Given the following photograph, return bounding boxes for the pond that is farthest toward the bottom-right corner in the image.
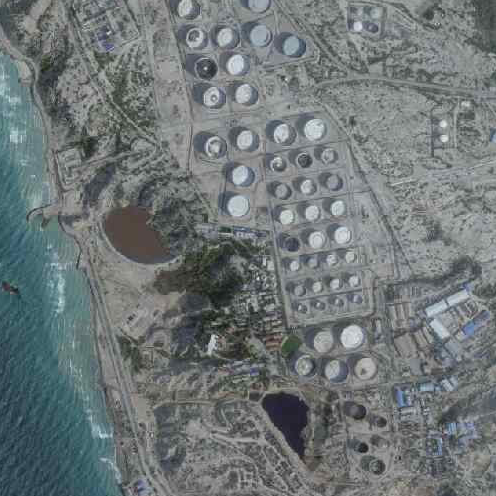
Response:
[262,392,308,457]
